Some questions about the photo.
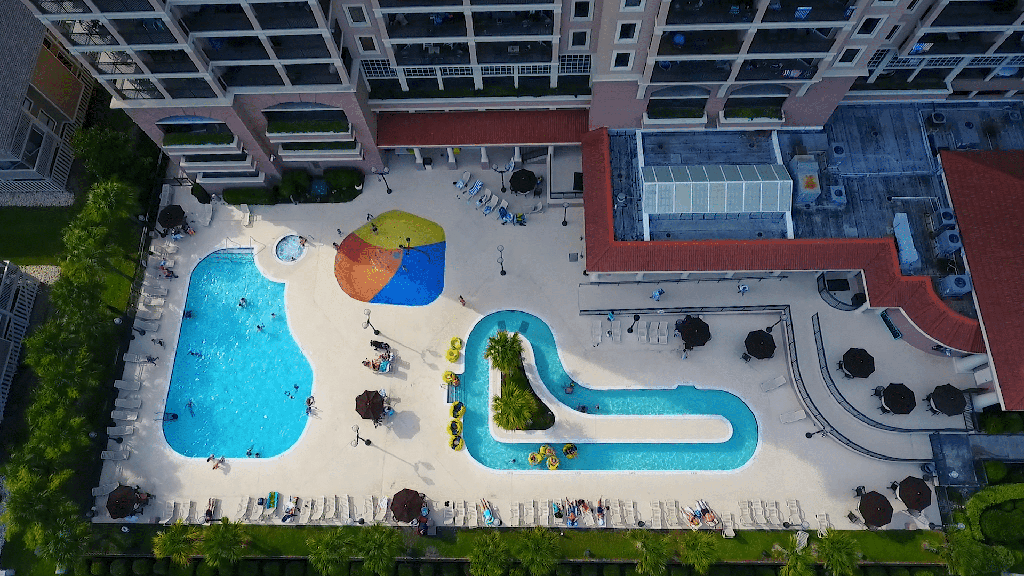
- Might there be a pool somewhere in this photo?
Yes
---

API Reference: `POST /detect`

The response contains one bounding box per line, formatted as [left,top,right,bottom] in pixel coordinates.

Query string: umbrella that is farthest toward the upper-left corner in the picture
[160,205,191,230]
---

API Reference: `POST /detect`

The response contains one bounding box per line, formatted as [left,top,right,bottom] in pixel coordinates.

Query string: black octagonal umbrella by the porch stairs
[510,172,537,199]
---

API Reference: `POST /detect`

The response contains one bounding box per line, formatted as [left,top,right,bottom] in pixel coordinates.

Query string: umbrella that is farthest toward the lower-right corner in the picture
[891,476,929,512]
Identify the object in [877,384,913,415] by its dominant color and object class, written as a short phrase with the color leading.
black umbrella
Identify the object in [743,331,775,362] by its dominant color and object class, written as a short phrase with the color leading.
black umbrella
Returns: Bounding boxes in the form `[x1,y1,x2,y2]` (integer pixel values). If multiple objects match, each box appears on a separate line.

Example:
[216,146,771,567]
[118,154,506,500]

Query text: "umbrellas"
[510,172,537,199]
[358,389,388,420]
[853,492,889,528]
[924,384,963,416]
[112,484,148,519]
[836,348,871,380]
[743,331,775,362]
[160,205,191,230]
[392,488,424,522]
[877,384,913,415]
[891,476,929,512]
[678,319,710,349]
